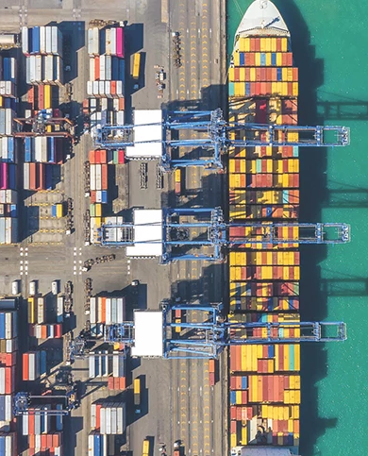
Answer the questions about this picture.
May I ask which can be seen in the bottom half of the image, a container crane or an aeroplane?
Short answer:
container crane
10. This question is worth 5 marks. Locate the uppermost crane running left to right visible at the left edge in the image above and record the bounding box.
[13,115,74,143]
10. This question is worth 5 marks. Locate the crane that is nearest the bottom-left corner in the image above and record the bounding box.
[12,388,75,417]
